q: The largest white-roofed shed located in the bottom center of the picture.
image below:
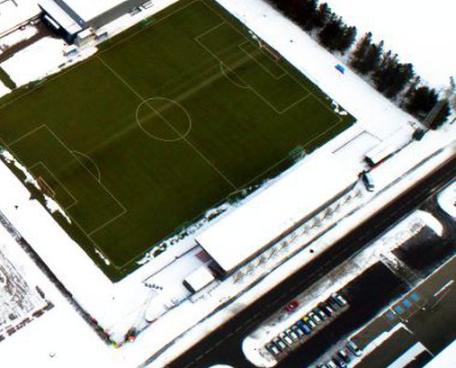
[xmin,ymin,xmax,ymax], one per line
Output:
[182,267,215,295]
